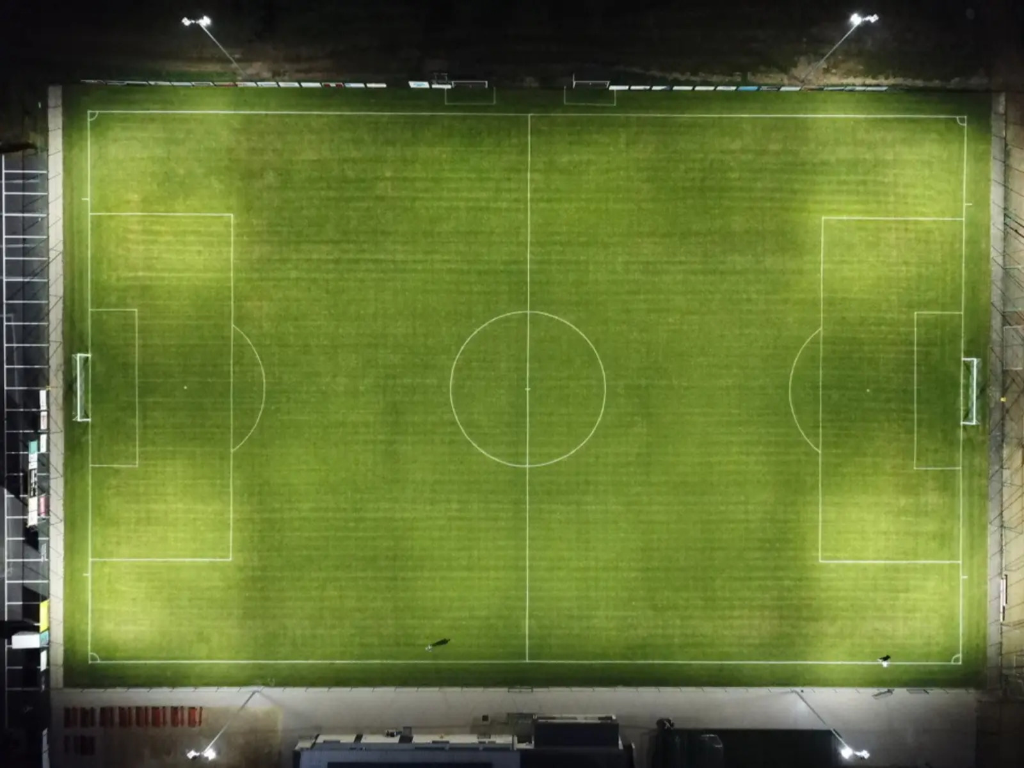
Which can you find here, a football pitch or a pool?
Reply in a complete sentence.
This aerial view contains a football pitch.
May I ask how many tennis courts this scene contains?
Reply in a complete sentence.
Not a single tennis court can be seen.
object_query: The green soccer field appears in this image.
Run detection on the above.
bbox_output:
[63,86,991,688]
